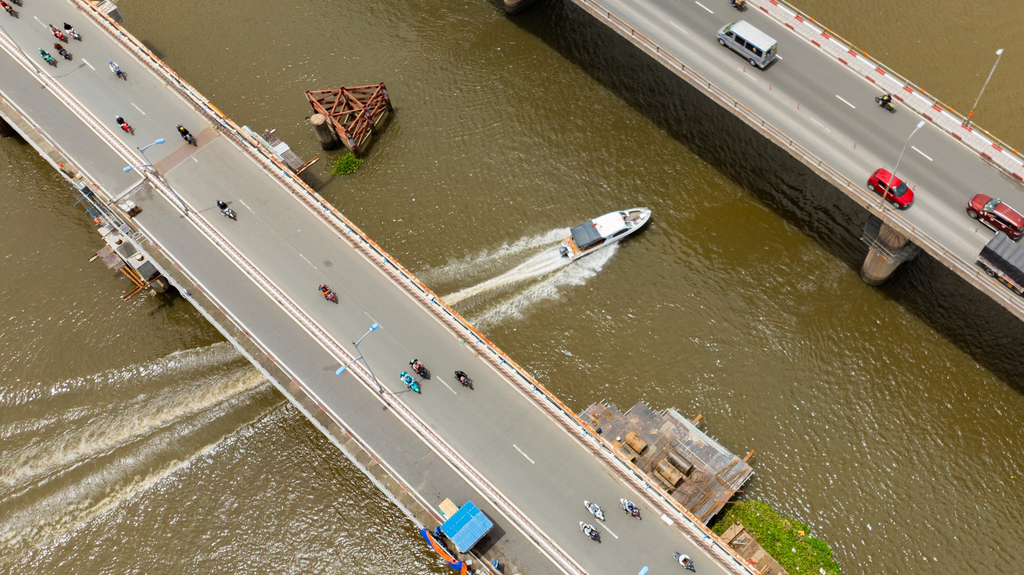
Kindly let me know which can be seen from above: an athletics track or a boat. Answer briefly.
boat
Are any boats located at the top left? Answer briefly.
No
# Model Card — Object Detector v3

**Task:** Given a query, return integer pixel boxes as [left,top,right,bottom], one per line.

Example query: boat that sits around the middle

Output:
[560,206,649,262]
